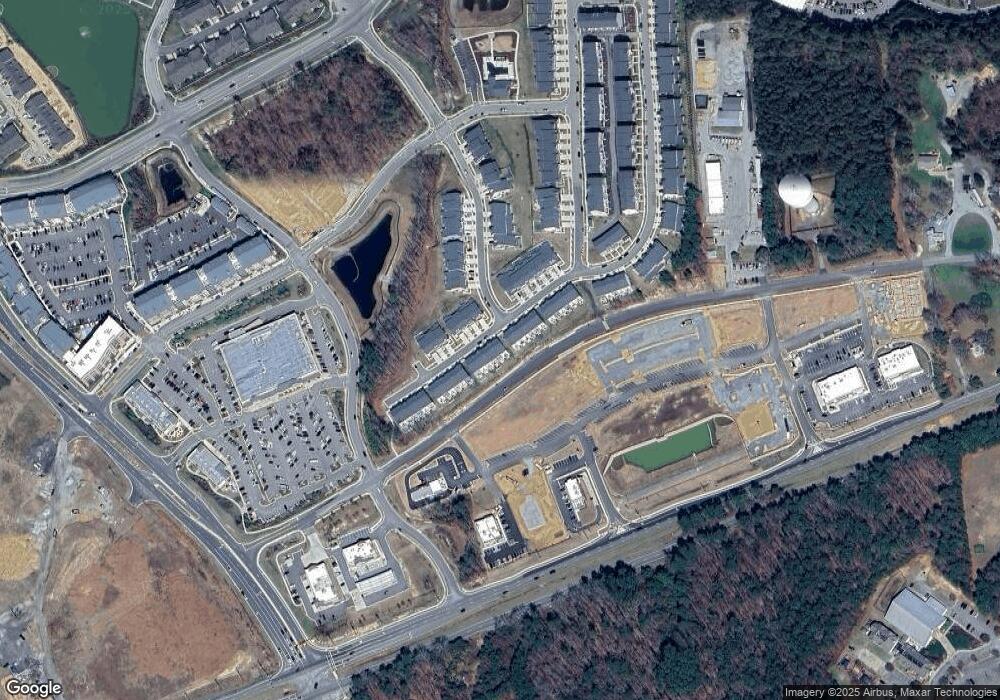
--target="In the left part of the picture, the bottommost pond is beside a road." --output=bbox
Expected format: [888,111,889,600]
[331,213,393,319]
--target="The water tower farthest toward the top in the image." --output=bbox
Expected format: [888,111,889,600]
[780,172,819,215]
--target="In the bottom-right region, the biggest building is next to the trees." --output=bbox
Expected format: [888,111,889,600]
[884,588,946,650]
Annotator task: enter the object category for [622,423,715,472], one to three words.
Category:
pond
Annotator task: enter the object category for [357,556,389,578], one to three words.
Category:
building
